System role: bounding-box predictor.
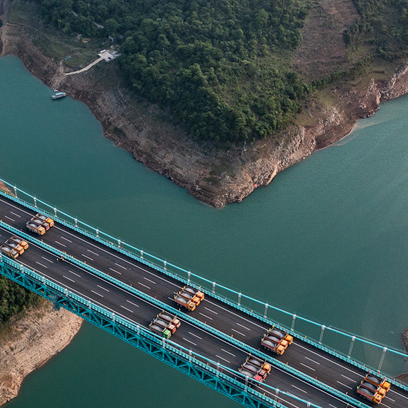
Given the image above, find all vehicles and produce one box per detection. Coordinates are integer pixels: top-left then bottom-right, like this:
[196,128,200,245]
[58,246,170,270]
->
[11,233,30,250]
[181,282,204,301]
[364,371,390,392]
[149,318,172,339]
[29,218,50,232]
[262,336,286,356]
[177,287,200,306]
[158,308,182,328]
[175,293,196,312]
[1,241,21,259]
[154,316,178,334]
[269,325,294,346]
[4,240,25,255]
[265,330,289,349]
[242,358,267,380]
[246,353,271,374]
[360,376,388,398]
[26,222,45,236]
[34,214,55,228]
[355,382,382,404]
